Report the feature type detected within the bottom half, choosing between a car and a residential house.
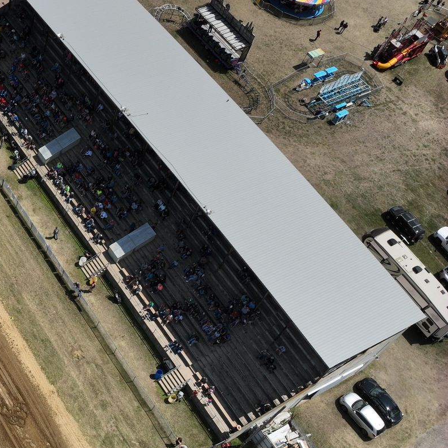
car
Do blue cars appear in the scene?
No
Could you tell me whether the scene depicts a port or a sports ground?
sports ground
